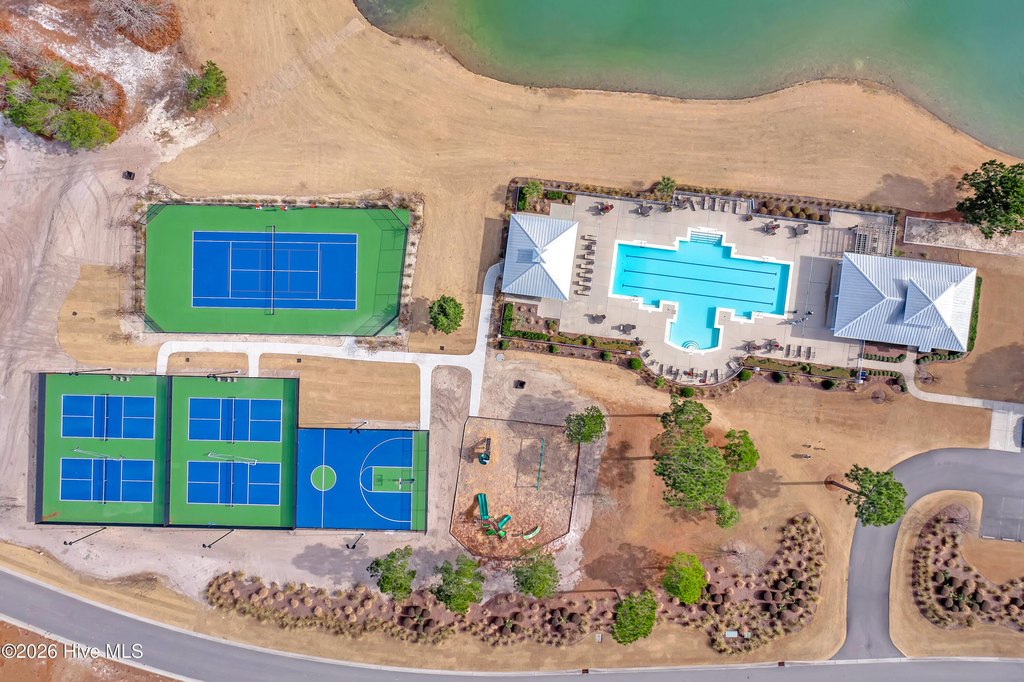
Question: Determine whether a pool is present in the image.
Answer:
Yes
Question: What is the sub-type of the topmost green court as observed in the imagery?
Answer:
tennis court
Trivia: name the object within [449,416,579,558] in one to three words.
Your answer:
playground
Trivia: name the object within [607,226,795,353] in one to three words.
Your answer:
swimming pool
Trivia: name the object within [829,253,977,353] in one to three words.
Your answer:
building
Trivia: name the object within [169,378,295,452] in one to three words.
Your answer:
sports court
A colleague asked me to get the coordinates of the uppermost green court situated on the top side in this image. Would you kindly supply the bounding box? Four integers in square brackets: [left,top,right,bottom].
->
[143,204,409,335]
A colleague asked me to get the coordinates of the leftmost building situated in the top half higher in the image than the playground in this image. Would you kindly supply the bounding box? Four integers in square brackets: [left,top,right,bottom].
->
[501,214,578,301]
